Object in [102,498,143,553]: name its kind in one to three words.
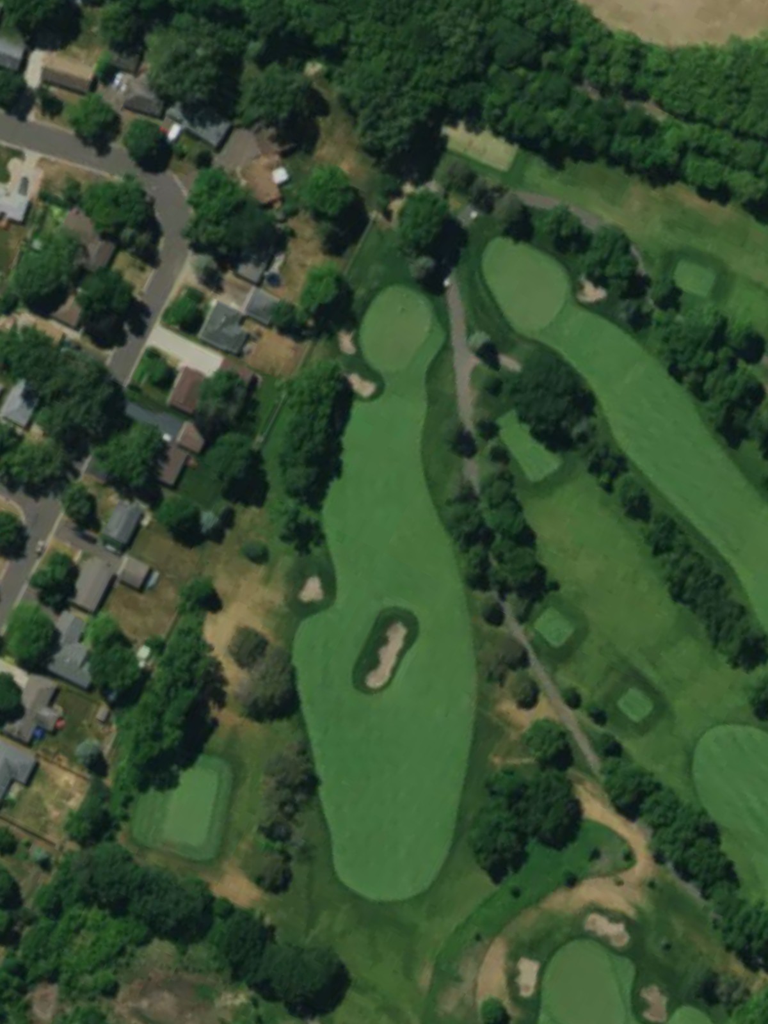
building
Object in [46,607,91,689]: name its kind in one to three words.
house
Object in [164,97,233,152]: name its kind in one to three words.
house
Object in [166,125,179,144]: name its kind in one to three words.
vehicle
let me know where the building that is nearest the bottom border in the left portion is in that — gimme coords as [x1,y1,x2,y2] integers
[0,736,40,813]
